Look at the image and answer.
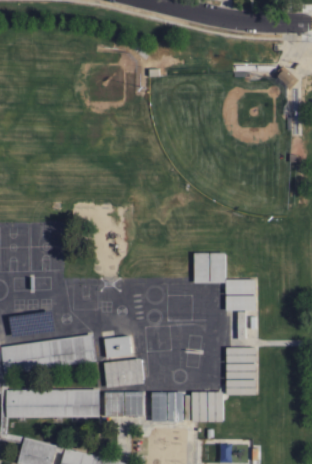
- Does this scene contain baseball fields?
Yes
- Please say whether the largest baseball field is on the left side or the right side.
right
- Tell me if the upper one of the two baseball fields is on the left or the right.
left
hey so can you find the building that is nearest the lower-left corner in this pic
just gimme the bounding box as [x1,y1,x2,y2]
[18,438,57,464]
